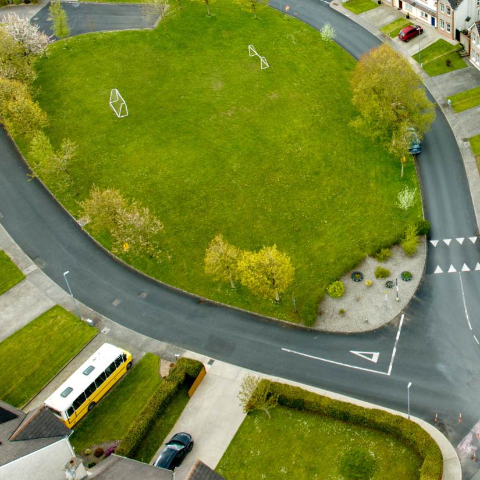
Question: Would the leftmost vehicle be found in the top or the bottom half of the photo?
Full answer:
You can find the leftmost vehicle in the bottom half.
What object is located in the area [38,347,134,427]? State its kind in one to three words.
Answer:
vehicle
